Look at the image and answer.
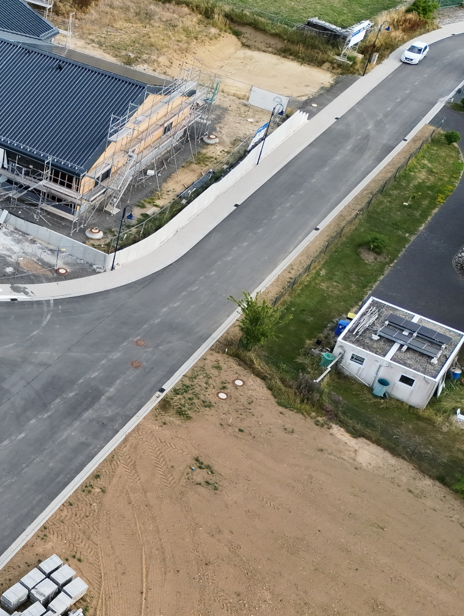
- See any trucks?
No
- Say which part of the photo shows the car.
top right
